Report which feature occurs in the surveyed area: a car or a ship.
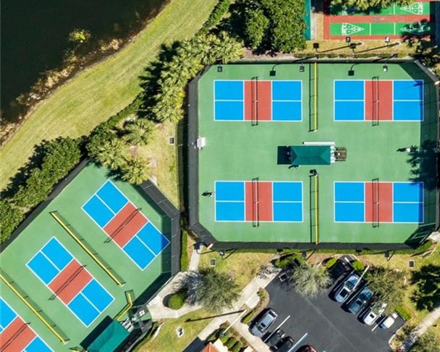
car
